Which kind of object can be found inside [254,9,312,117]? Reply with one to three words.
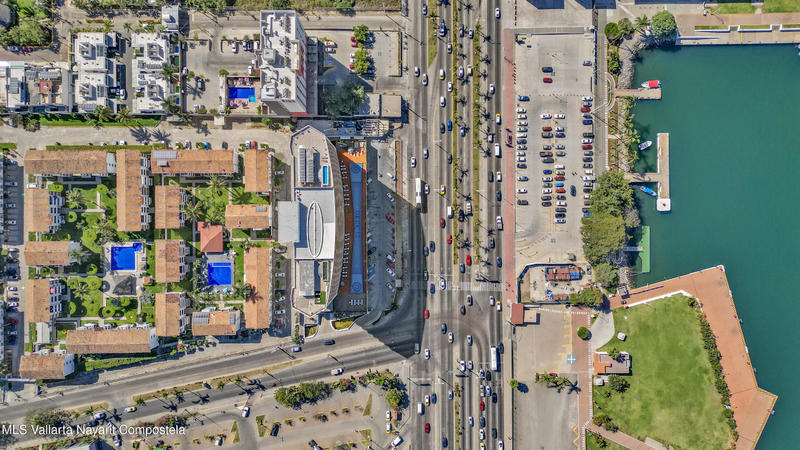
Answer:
building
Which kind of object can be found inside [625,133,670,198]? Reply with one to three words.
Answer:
pier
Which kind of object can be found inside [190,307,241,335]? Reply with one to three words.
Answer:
house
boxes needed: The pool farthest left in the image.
[110,242,143,271]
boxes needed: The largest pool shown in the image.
[348,162,364,294]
